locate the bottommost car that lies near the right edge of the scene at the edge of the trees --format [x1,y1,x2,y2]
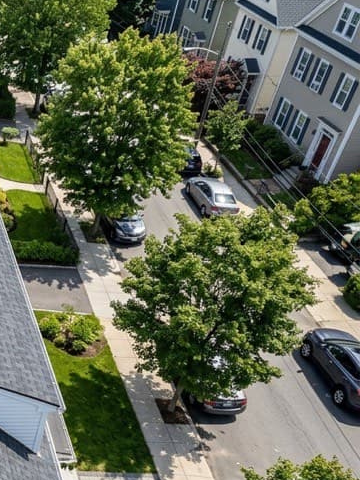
[298,328,360,417]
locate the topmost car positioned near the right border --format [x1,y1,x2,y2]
[322,225,360,266]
